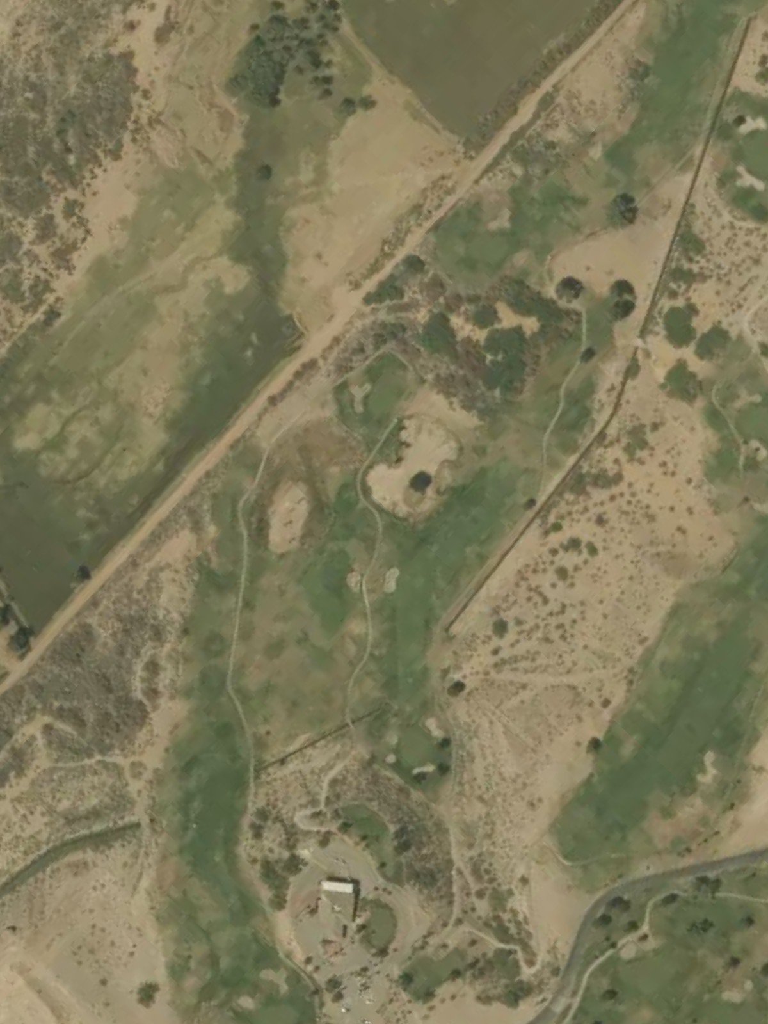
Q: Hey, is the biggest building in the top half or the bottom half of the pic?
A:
bottom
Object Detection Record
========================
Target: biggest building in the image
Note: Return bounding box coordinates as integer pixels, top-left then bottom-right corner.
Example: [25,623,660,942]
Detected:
[321,883,354,923]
